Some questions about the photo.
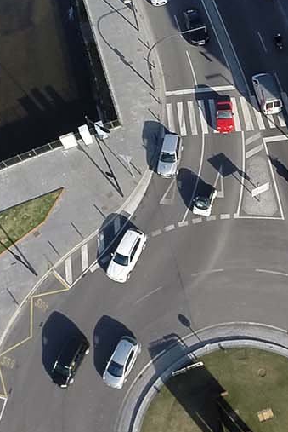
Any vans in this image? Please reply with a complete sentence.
Yes, the picture does show a van.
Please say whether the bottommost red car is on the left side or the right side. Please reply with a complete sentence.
It is on the right.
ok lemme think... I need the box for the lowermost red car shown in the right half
[214,92,236,132]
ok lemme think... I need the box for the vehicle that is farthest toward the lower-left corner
[51,332,92,388]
